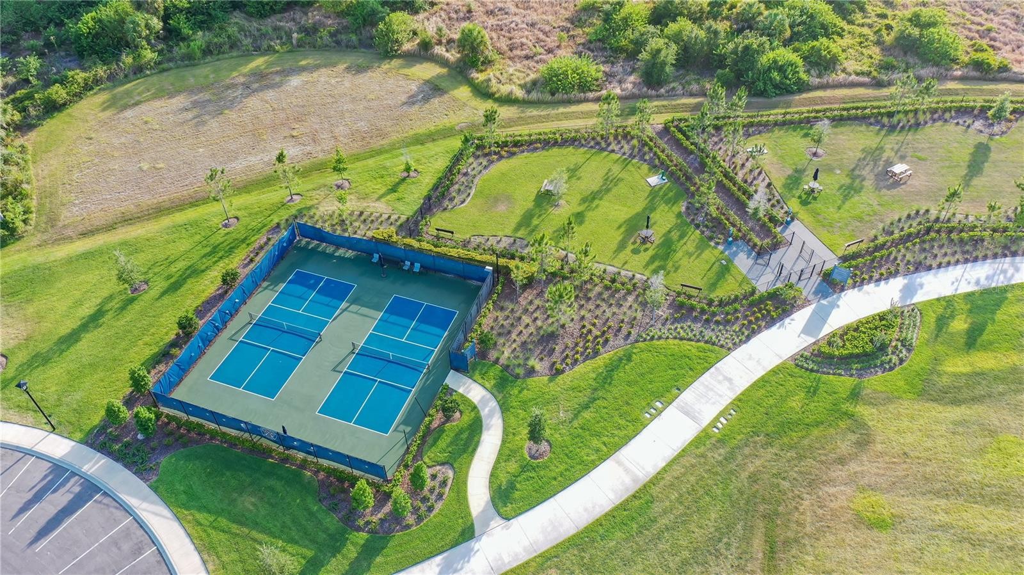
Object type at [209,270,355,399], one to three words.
sports court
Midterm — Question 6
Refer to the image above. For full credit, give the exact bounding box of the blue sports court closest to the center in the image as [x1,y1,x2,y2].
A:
[317,295,458,435]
